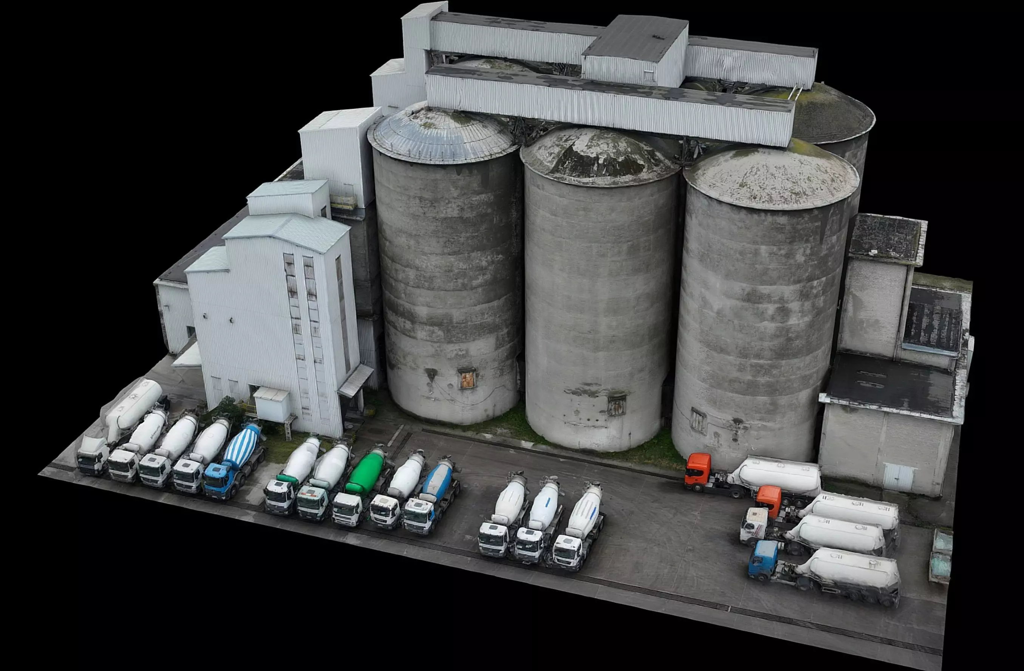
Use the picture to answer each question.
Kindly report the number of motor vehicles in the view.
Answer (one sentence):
Looking from above, you can make out 17 motor vehicles.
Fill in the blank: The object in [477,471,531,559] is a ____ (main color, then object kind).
white truck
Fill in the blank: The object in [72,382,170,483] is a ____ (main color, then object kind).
white truck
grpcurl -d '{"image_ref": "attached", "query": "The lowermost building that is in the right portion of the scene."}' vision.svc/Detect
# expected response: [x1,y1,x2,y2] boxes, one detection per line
[816,350,970,498]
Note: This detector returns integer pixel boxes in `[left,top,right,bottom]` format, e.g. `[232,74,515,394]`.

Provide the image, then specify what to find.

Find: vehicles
[513,476,565,566]
[173,416,235,497]
[477,471,531,559]
[737,505,887,557]
[108,406,172,486]
[752,480,897,549]
[140,411,204,491]
[72,382,170,483]
[263,434,326,517]
[404,450,460,535]
[744,537,900,606]
[370,447,430,532]
[552,484,605,574]
[203,421,268,502]
[684,446,823,509]
[332,444,391,528]
[296,440,356,524]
